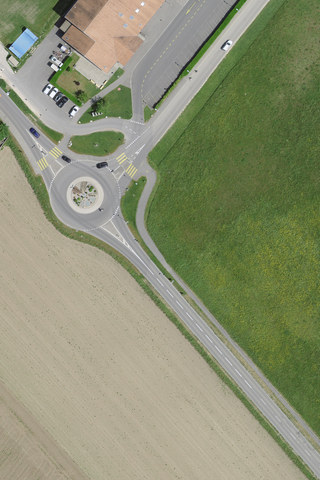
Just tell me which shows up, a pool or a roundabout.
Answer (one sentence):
Looking from above, you can make out a roundabout.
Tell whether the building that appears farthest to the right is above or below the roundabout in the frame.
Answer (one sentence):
The position of the building that appears farthest to the right is above the roundabout.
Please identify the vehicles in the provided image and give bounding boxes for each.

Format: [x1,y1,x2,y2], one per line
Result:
[49,88,58,98]
[51,56,63,67]
[30,128,40,138]
[69,105,78,116]
[54,92,62,102]
[61,154,72,164]
[58,96,67,107]
[222,40,232,50]
[44,84,52,94]
[96,162,108,168]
